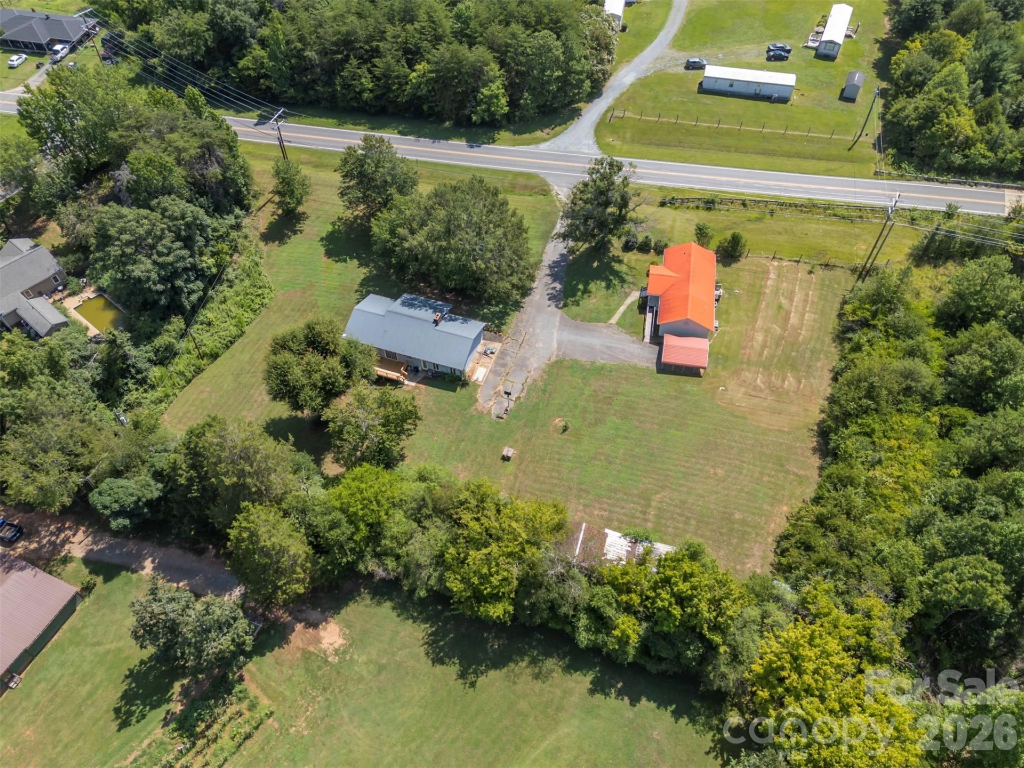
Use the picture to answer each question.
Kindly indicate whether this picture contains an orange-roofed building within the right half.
Yes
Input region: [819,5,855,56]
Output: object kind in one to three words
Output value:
house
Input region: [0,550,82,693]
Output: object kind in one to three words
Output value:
barn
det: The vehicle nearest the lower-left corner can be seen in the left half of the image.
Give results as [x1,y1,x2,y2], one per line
[0,518,26,549]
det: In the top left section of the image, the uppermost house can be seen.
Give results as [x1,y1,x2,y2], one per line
[0,8,105,53]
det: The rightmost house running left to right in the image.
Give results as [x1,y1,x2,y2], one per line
[702,68,794,97]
